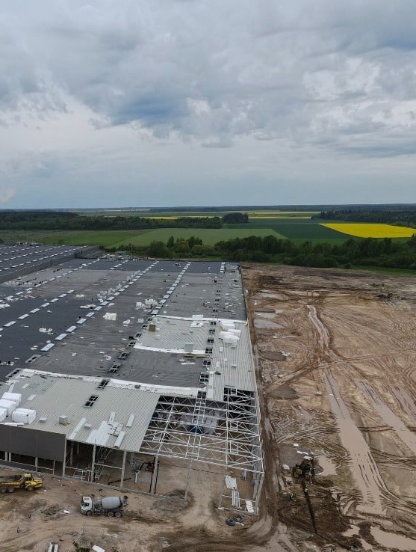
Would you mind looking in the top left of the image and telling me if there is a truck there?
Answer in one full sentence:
No, in the top left of the image there is no truck.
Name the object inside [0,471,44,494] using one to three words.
truck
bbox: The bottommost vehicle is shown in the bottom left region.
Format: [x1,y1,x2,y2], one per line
[79,496,130,518]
